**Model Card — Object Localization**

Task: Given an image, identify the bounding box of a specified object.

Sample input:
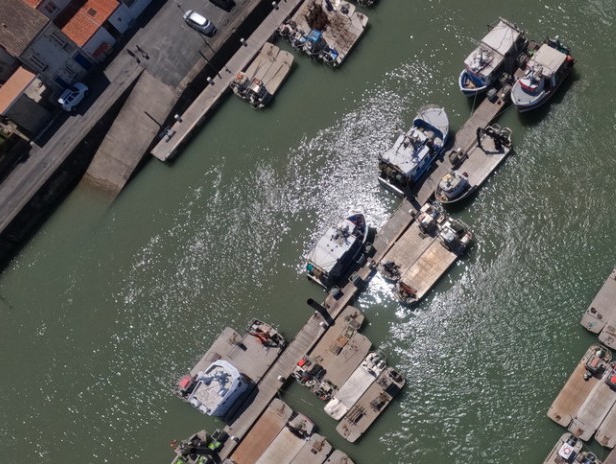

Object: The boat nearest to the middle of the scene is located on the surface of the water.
[304,211,367,292]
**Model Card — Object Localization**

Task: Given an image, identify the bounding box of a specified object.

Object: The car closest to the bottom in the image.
[58,83,93,115]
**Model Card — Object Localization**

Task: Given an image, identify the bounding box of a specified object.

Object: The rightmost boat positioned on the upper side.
[516,36,581,113]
